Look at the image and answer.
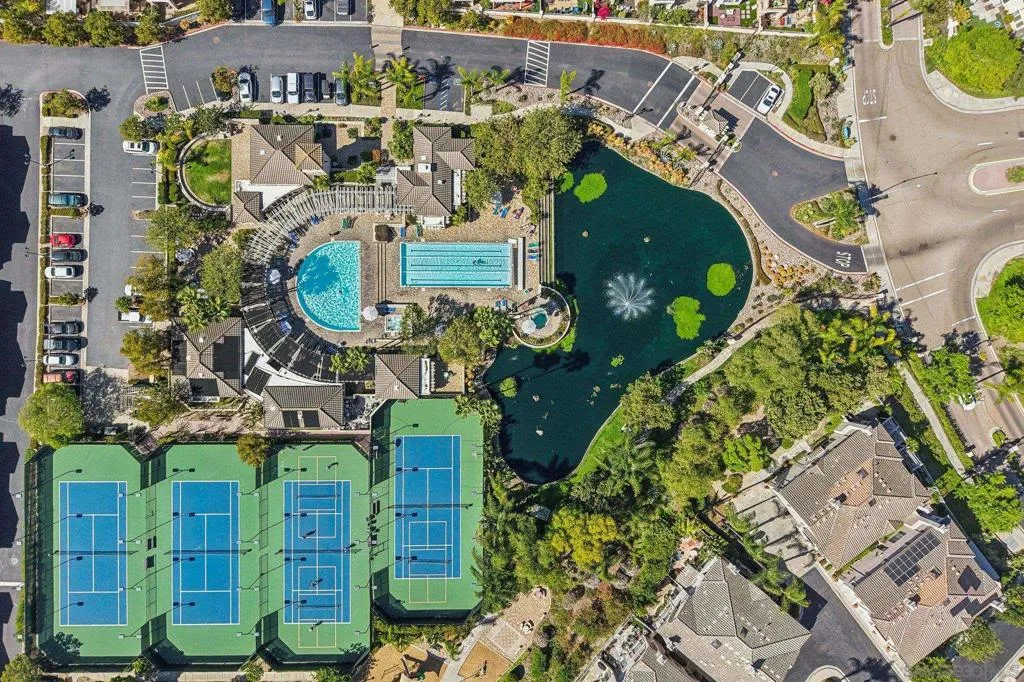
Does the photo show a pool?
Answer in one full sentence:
Yes, you can see a pool in this photo.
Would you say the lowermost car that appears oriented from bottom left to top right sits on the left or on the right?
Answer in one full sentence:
The lowermost car that appears oriented from bottom left to top right sits on the right side.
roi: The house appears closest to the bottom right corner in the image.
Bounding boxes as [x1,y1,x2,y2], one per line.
[841,510,1002,663]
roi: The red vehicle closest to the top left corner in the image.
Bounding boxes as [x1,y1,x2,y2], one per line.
[50,234,81,247]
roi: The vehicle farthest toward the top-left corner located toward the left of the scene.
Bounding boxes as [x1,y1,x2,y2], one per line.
[52,126,83,140]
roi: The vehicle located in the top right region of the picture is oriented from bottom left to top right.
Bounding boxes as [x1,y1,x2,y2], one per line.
[757,86,780,115]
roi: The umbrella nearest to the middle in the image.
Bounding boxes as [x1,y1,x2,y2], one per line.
[522,319,535,333]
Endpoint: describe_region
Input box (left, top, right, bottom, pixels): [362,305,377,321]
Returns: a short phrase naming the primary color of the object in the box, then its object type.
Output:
white umbrella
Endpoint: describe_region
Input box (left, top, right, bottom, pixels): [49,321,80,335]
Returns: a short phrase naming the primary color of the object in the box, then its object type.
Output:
gray car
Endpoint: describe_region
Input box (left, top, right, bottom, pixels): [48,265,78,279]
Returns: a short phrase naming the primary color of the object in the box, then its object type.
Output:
white car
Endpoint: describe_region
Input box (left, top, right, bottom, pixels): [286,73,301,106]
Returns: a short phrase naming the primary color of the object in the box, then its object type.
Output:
white car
